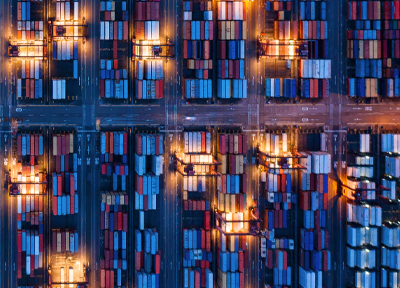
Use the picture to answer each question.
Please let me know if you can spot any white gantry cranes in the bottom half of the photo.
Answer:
No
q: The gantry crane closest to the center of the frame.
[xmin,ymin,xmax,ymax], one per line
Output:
[173,156,220,176]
